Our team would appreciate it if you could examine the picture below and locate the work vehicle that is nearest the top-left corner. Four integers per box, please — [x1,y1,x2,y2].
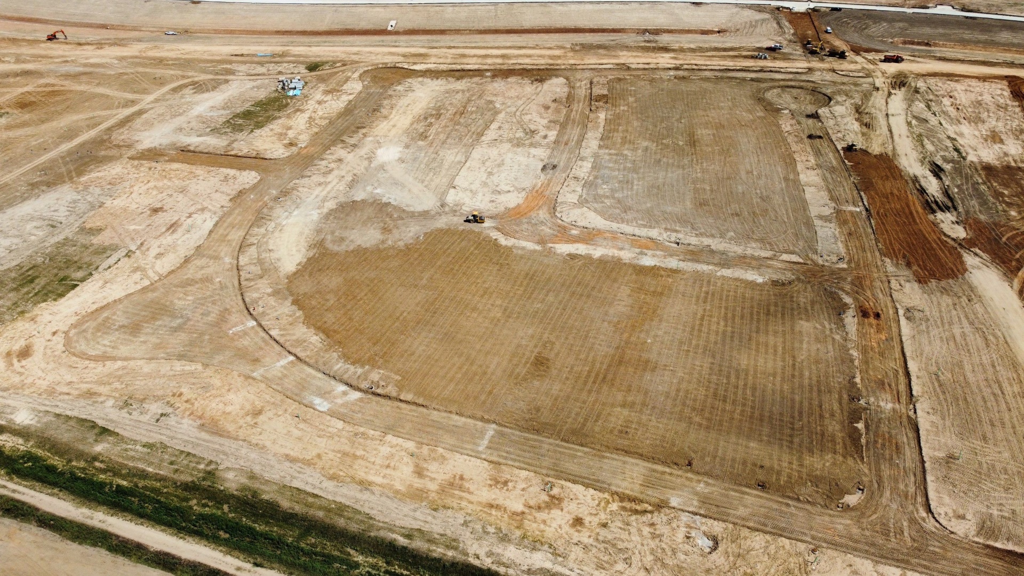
[47,27,72,41]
